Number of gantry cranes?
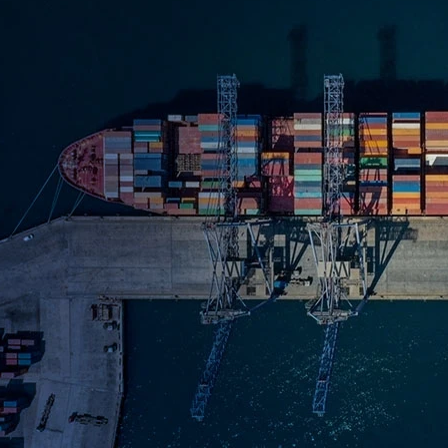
2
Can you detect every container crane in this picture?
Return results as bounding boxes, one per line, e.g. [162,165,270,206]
[194,74,283,423]
[305,74,374,423]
